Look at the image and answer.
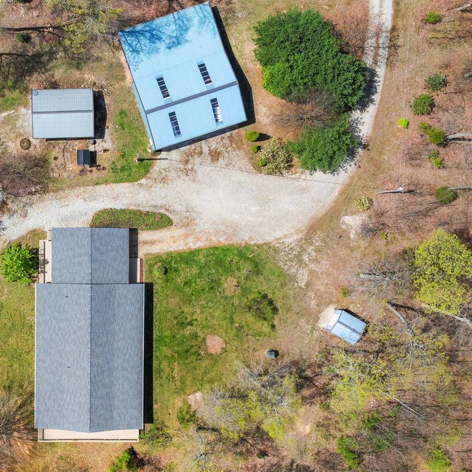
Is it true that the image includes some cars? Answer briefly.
No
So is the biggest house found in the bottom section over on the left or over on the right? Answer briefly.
left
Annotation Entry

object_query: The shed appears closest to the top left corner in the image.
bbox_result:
[31,88,94,140]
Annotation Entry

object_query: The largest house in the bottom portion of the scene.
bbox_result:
[34,227,145,433]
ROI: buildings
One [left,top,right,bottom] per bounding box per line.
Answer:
[31,88,94,140]
[34,227,145,433]
[323,310,365,344]
[117,2,247,151]
[76,150,90,165]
